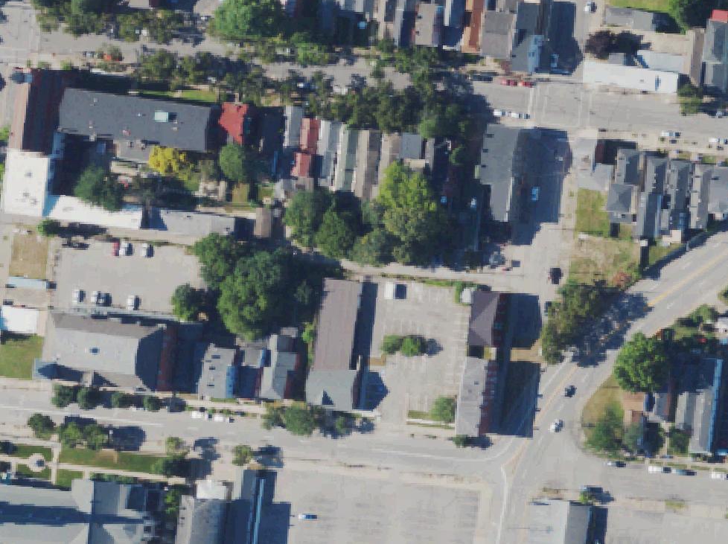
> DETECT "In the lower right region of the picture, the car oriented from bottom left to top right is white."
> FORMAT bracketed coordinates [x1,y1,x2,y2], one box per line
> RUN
[550,417,563,434]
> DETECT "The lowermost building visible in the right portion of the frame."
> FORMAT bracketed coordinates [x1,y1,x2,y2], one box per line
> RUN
[526,495,595,544]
